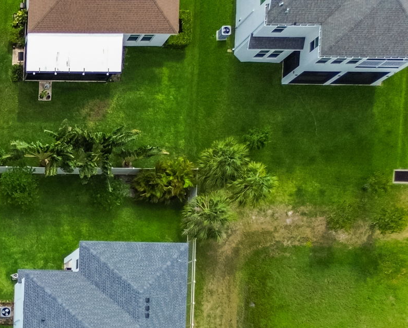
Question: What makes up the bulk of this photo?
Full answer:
The bulk of the photo consists of grass.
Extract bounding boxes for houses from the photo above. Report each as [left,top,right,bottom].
[235,0,408,84]
[13,240,188,328]
[20,0,180,85]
